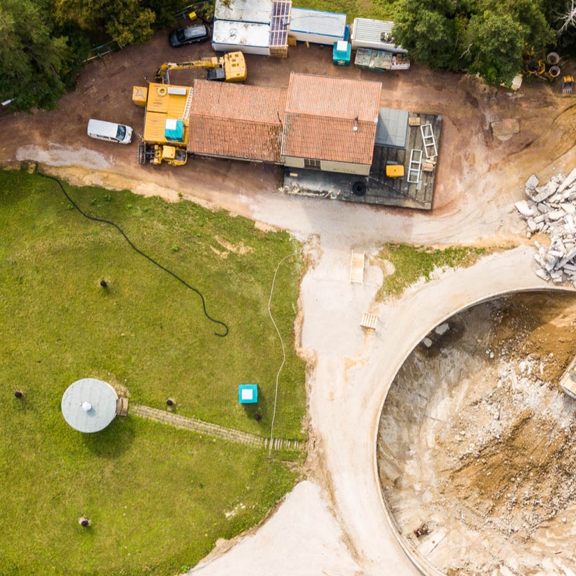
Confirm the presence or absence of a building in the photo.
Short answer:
Yes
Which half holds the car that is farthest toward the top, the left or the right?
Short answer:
left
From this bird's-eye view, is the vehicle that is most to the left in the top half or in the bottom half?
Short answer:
top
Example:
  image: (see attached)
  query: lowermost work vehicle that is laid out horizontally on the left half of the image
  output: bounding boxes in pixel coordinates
[137,144,185,170]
